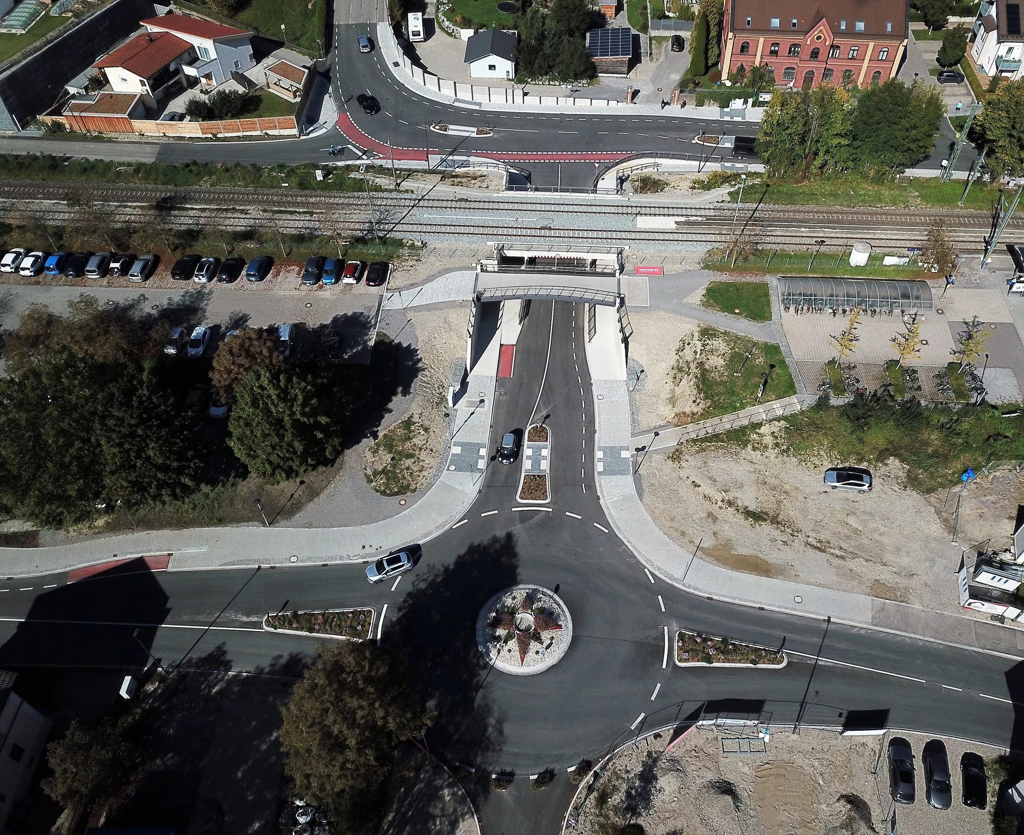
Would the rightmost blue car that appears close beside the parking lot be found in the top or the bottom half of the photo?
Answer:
top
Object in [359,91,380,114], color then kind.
black car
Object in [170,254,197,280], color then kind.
black car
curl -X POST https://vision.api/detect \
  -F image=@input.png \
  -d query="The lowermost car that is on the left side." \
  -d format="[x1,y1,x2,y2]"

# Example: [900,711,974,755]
[360,547,416,586]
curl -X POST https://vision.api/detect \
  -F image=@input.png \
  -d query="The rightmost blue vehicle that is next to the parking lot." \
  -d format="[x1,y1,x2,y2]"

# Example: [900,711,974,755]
[318,255,340,282]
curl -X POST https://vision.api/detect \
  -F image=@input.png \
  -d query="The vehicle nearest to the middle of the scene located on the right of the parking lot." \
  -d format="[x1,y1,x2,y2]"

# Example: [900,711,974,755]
[497,429,519,466]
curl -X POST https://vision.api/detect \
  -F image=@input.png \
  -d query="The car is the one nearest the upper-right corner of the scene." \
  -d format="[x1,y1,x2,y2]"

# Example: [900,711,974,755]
[937,66,969,83]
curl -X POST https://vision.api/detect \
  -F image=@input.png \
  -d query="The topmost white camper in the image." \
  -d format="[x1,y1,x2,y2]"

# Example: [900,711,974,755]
[408,11,424,45]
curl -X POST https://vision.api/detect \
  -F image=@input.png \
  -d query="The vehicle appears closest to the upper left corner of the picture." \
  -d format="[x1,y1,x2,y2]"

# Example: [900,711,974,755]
[158,107,192,123]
